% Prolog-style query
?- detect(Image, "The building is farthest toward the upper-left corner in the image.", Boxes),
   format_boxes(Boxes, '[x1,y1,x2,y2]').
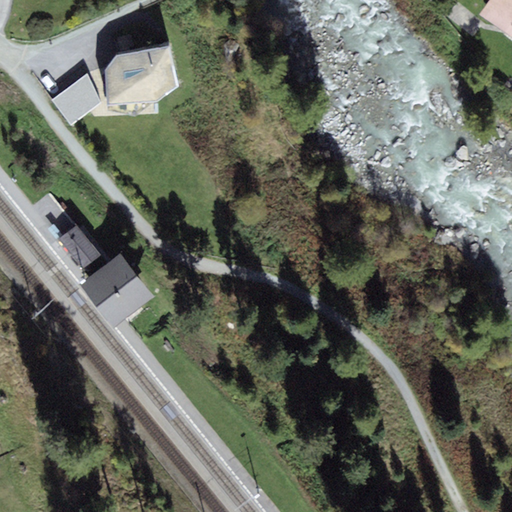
[52,74,101,125]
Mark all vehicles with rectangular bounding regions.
[40,72,58,94]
